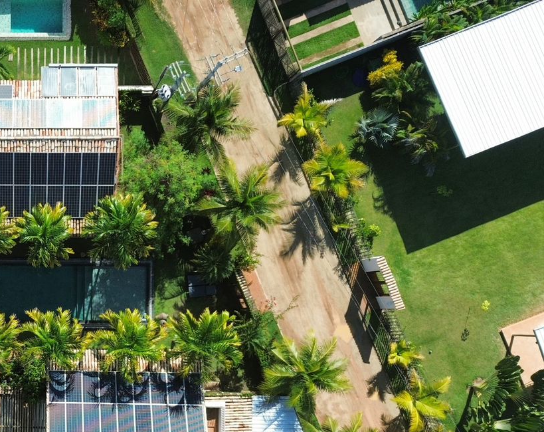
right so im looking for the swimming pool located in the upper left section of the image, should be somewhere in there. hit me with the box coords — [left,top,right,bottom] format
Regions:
[0,0,71,39]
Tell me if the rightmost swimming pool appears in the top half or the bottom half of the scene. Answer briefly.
top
